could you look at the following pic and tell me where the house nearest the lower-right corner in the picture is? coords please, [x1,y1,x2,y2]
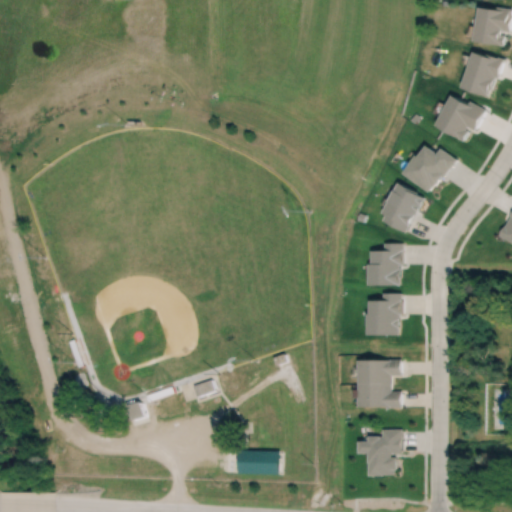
[357,428,406,476]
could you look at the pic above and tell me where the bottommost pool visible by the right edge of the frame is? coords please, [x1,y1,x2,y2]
[496,390,510,430]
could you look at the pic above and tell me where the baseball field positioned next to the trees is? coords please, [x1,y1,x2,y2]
[26,128,312,404]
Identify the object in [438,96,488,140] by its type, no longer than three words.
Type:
house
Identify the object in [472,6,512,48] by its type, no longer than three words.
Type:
house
